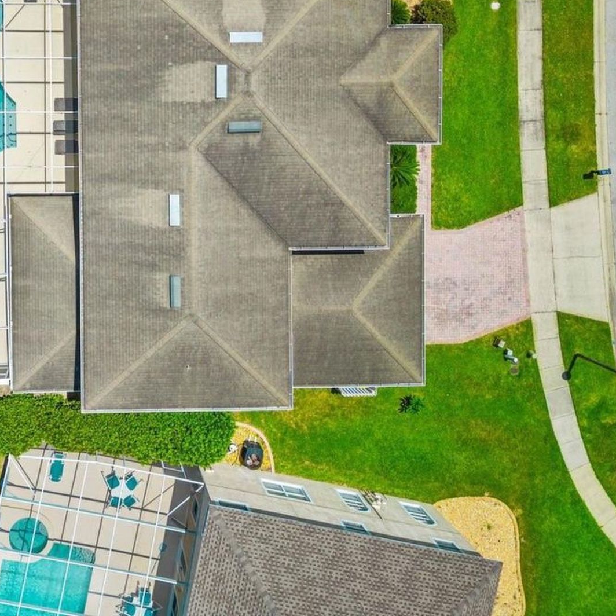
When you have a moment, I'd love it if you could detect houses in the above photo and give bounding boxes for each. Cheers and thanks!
[177,464,504,616]
[8,0,445,416]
